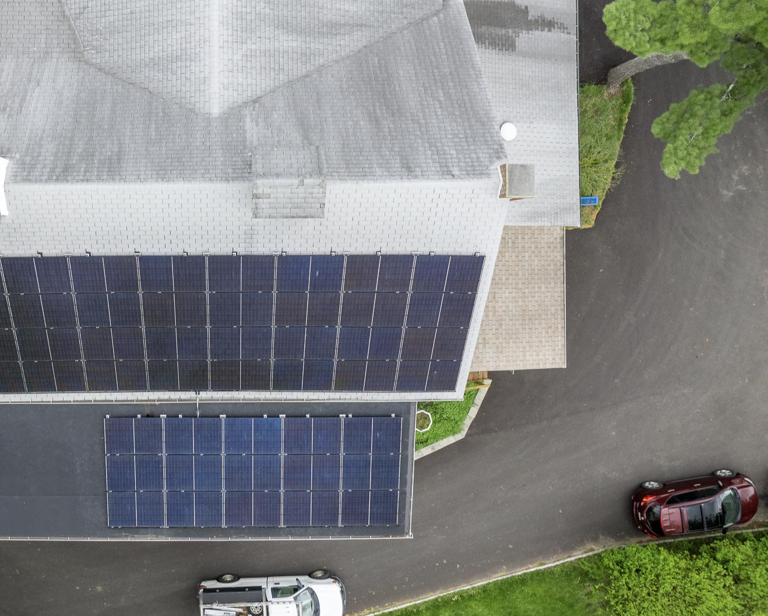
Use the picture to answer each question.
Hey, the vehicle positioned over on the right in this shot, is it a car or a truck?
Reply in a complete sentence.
I'd say the vehicle positioned over on the right is a car.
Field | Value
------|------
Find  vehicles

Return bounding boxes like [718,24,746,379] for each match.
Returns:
[199,569,348,616]
[628,469,760,540]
